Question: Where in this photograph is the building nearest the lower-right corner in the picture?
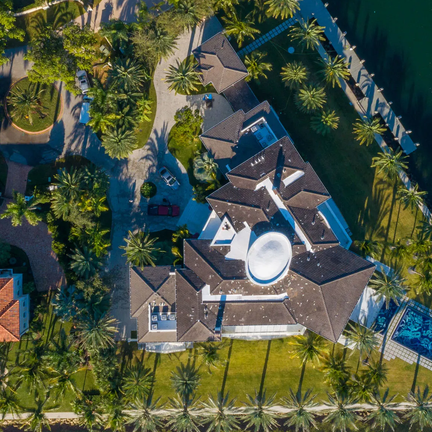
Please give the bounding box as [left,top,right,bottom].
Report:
[130,100,407,353]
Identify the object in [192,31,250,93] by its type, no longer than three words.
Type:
building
